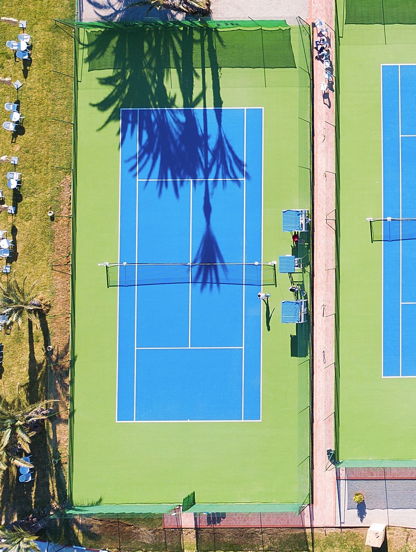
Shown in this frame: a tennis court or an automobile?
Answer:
tennis court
